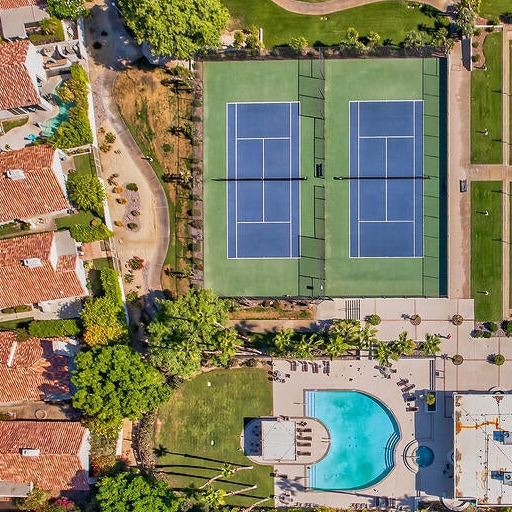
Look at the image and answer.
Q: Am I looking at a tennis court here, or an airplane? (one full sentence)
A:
This aerial view contains a tennis court.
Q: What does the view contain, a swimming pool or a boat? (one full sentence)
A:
Visible in the photo is a swimming pool.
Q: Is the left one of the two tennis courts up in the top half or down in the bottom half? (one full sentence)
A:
The left one of the two tennis courts sits in the top half of the picture.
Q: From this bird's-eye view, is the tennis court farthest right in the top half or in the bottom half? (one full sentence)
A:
You can find the tennis court farthest right in the top half.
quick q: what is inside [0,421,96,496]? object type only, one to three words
house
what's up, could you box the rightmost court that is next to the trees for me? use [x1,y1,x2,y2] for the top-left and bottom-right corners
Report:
[325,60,448,297]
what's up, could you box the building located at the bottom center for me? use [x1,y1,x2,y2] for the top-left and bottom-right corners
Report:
[261,421,301,461]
